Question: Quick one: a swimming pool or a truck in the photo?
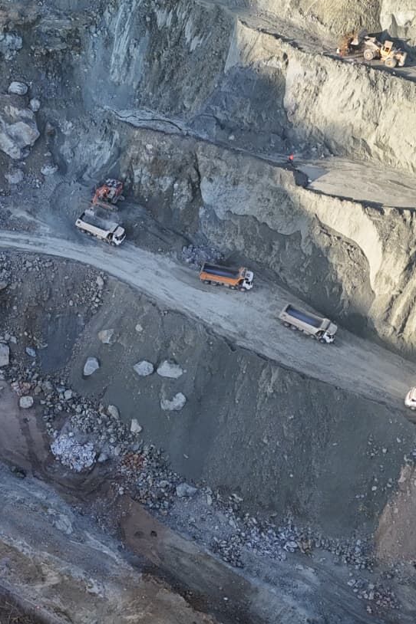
truck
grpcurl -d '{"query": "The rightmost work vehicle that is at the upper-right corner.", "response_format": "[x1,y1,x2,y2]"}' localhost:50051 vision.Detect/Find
[352,25,411,68]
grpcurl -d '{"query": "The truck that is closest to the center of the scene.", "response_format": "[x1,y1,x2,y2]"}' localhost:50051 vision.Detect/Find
[200,260,259,291]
